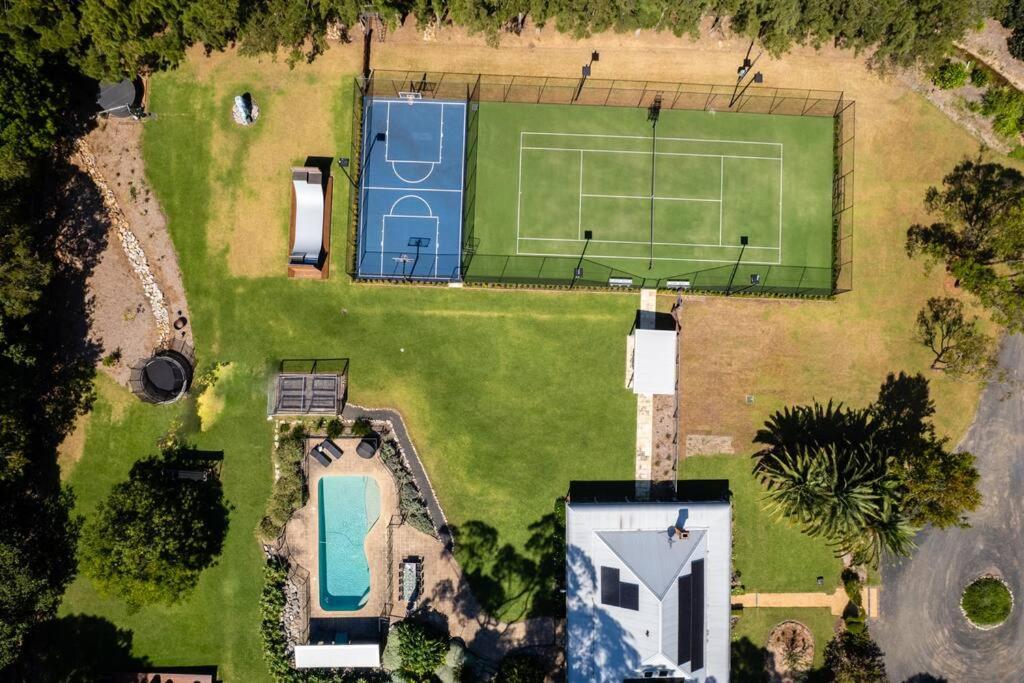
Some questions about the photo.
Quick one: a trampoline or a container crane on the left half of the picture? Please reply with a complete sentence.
Visible on the left half of the picture is a trampoline.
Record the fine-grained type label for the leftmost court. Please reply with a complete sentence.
The leftmost court appears to be a basketball court.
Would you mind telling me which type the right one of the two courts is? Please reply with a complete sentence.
I'd identify the right one of the two courts as a tennis court.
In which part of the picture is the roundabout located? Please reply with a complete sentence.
You can find the roundabout in the bottom right area of the picture.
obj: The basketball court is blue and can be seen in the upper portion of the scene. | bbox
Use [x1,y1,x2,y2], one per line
[356,96,467,281]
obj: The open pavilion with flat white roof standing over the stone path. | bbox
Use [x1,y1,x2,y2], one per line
[627,326,677,394]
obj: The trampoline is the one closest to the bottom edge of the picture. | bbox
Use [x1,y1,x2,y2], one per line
[128,356,190,406]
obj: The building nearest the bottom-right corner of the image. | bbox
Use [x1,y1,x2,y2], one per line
[565,497,731,683]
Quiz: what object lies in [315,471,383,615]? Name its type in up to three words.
swimming pool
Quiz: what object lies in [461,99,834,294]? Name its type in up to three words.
tennis court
